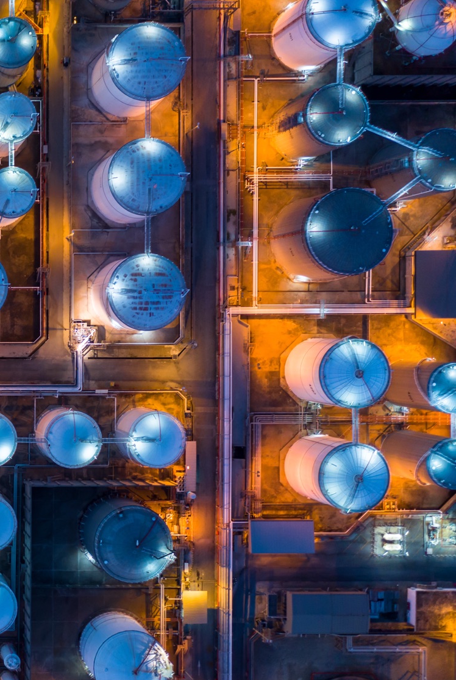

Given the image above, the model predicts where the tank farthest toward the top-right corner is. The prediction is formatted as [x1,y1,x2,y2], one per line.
[374,0,456,68]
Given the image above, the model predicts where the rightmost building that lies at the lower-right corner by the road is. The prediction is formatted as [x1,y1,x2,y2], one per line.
[401,585,456,631]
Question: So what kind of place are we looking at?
industrial area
